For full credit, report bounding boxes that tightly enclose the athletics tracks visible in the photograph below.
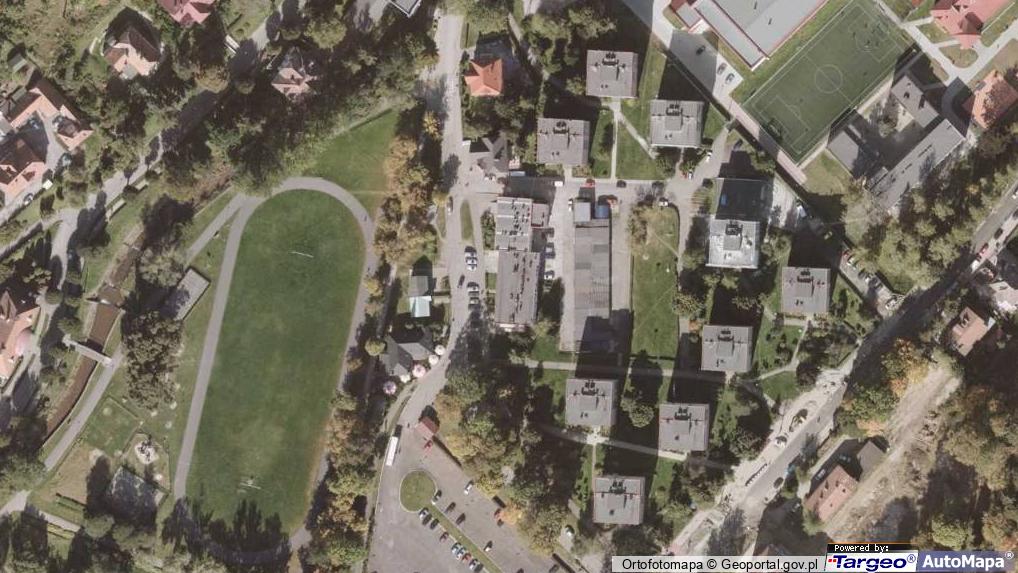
[176,177,378,561]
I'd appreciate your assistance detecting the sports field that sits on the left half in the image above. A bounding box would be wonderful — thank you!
[187,190,365,549]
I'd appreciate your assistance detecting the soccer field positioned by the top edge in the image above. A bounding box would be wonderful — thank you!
[742,0,908,164]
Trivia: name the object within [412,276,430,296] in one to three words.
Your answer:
house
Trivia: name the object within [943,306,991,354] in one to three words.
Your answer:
house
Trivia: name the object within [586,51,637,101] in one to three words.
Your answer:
building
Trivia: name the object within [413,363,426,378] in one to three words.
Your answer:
umbrella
